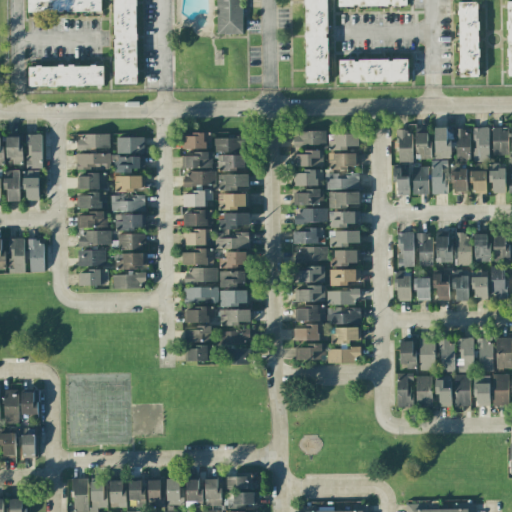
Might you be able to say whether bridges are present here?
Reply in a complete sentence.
No, I can see no bridge in this picture.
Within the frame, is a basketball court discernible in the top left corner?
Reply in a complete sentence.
No, looking in the top left corner, there is no basketball court.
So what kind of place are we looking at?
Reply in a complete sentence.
It's a residential area.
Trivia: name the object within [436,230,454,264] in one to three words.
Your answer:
house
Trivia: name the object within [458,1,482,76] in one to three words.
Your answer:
building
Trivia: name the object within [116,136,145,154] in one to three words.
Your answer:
house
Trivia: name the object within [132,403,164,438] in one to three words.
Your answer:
basketball court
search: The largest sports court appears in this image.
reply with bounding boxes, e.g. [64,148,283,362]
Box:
[66,372,132,446]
